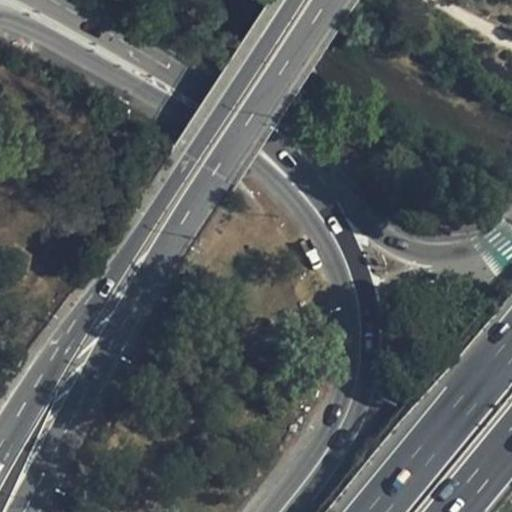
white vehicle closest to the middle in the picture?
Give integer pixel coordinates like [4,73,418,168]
[300,238,322,270]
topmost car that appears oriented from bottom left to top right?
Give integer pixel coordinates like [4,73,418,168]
[99,277,116,297]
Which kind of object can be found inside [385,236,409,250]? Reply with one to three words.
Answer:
car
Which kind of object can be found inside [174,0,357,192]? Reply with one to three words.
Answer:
overpass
